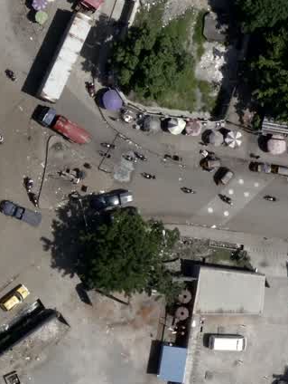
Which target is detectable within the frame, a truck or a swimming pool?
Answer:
truck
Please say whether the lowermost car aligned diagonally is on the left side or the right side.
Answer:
left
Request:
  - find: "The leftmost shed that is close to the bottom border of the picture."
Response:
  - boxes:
[154,343,189,383]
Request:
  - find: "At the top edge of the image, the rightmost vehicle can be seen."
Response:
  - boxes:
[35,0,101,103]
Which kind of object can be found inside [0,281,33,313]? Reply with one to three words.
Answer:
car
